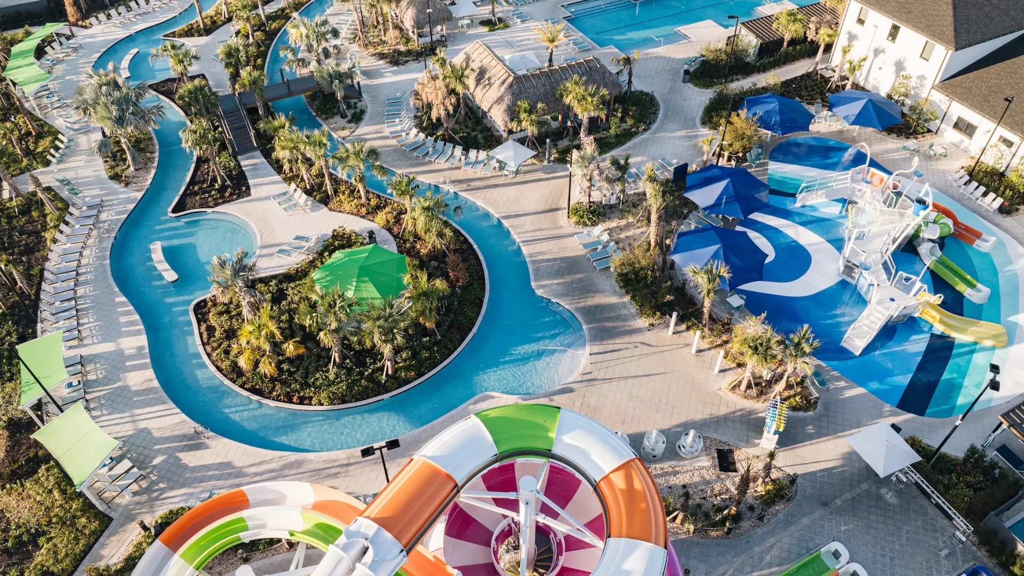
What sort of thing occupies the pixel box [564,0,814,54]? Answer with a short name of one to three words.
swimming pool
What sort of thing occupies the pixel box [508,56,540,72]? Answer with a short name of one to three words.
umbrella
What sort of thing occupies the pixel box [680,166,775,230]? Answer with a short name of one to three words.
umbrella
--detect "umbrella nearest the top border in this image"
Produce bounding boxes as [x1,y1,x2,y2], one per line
[444,1,487,41]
